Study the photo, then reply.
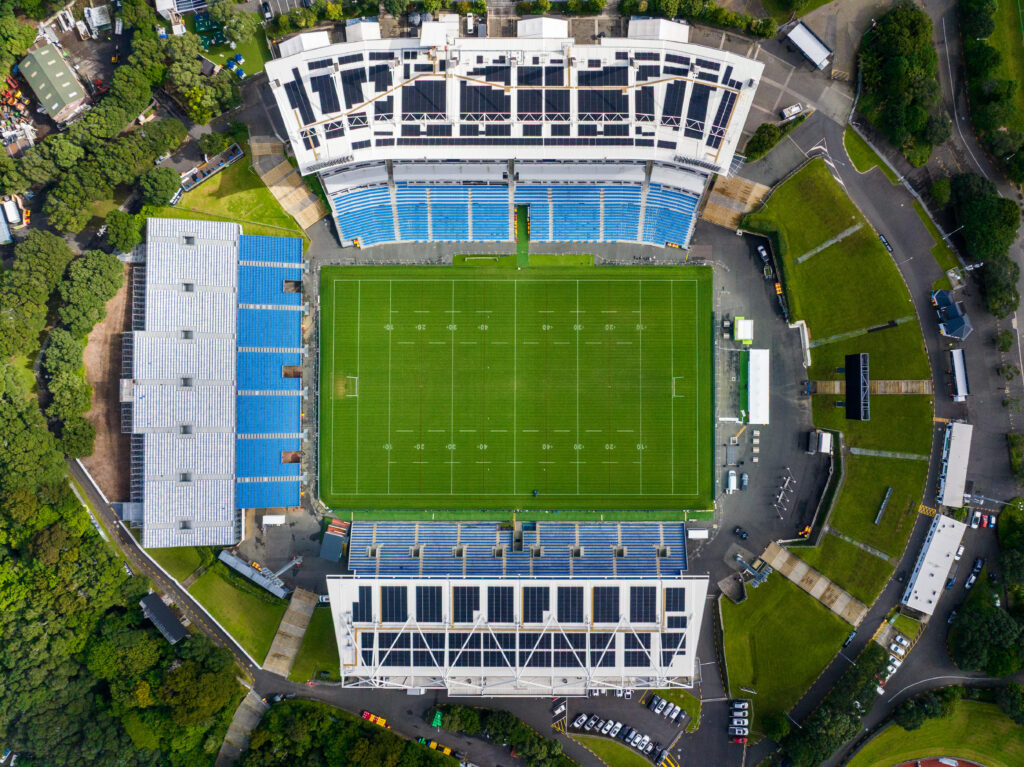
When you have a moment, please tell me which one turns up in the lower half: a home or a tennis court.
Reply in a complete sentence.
There is a home in the lower half.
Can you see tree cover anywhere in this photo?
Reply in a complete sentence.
Yes, there's tree cover in this view.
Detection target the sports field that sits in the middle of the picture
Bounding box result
[319,266,713,510]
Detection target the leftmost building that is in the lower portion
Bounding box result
[140,589,194,645]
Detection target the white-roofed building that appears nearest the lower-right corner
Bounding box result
[894,513,967,614]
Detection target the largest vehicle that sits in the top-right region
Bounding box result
[783,101,805,116]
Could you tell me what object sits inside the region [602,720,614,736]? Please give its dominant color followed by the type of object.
white vehicle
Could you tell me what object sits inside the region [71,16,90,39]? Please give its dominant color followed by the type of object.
white vehicle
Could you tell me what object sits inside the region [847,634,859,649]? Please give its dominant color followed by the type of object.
black vehicle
